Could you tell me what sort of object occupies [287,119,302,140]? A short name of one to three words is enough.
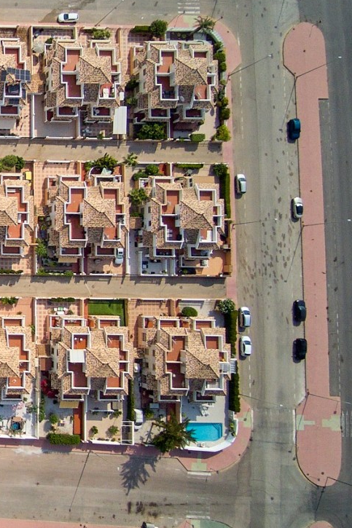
car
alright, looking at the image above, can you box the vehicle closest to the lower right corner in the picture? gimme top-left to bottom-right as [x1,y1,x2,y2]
[293,338,308,359]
